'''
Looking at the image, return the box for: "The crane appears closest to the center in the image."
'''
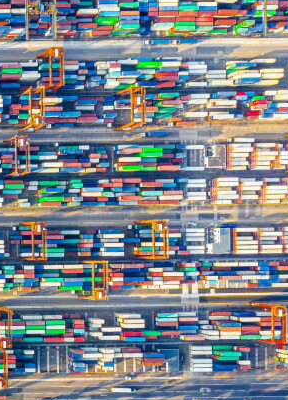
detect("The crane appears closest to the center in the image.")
[136,219,167,260]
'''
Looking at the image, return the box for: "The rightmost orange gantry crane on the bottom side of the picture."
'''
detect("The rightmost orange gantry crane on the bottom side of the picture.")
[250,302,288,346]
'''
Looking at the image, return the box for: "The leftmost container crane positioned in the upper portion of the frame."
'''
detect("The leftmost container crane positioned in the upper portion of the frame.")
[5,136,30,180]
